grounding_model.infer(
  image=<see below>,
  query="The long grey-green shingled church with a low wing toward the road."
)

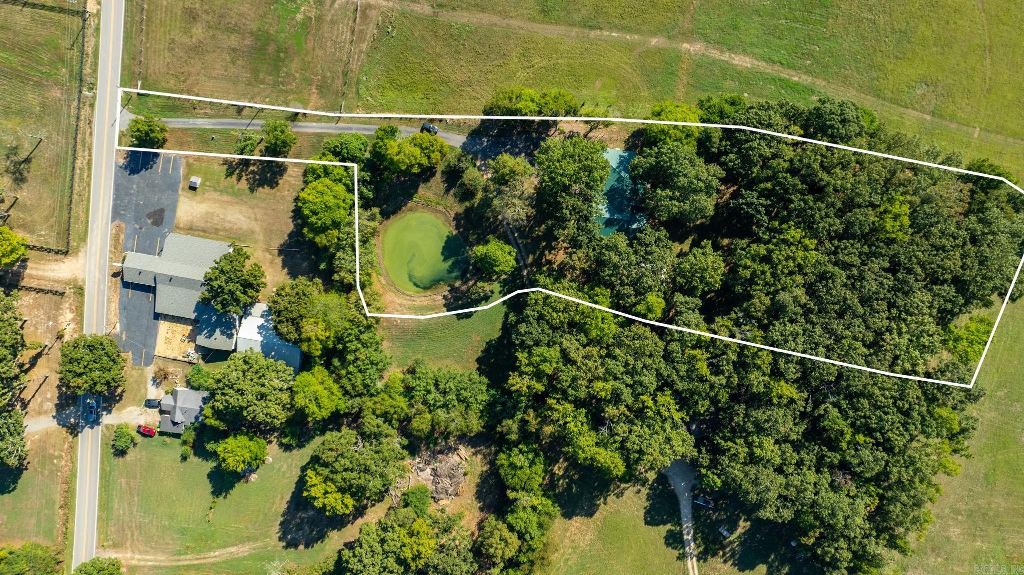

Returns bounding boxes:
[123,232,241,350]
